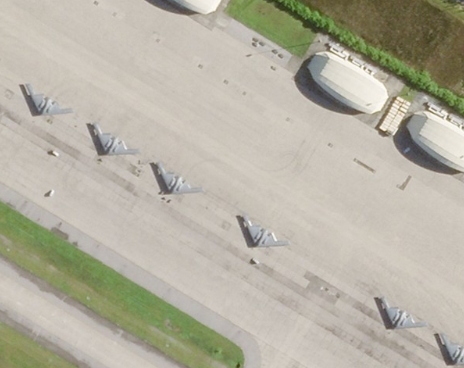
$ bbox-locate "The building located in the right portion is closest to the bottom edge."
[405,112,464,174]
